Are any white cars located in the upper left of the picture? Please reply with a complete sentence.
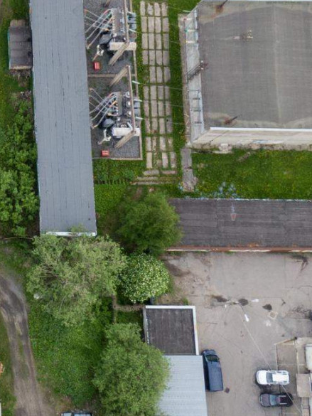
No, no white car is visible in the upper left of the picture.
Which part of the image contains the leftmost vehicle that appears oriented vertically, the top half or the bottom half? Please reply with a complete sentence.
The bottom half of the photo is where the leftmost vehicle that appears oriented vertically is.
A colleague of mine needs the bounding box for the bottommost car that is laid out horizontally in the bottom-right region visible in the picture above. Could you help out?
[258,391,294,409]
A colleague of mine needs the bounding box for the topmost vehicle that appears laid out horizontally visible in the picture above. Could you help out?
[255,369,290,386]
